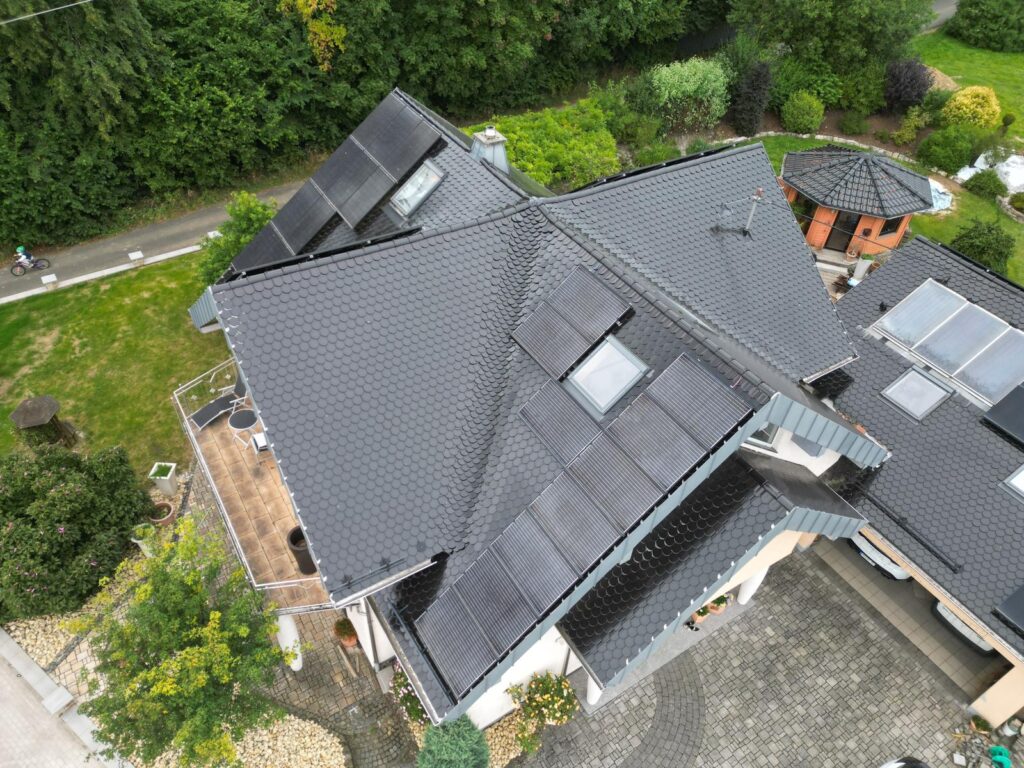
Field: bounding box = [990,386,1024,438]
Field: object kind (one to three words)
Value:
solar panel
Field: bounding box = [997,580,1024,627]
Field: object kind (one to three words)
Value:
solar panel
